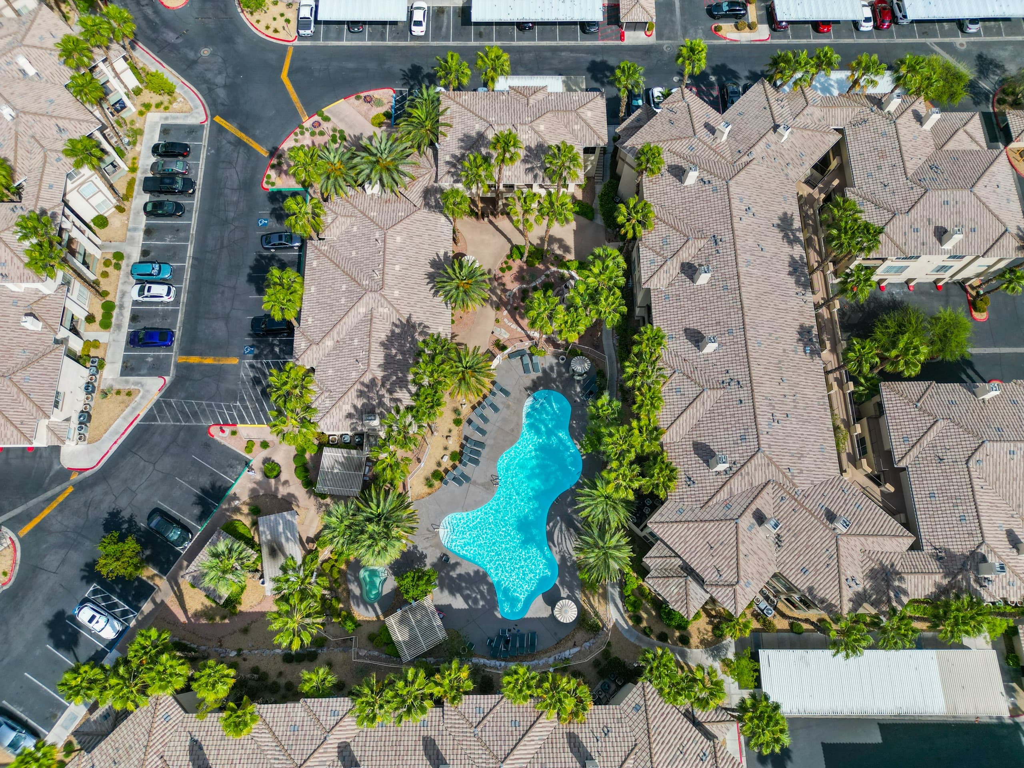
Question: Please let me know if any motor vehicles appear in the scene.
Yes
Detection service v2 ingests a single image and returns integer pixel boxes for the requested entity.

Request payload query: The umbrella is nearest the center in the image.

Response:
[571,355,591,374]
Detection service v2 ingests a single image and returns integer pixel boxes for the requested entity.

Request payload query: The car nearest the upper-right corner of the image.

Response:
[961,19,980,31]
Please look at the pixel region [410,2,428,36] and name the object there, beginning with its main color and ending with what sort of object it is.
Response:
white car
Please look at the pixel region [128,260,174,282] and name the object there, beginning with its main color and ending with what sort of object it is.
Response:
blue car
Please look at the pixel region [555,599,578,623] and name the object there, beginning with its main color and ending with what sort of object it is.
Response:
white umbrella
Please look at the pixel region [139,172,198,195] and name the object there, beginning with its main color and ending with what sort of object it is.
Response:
black truck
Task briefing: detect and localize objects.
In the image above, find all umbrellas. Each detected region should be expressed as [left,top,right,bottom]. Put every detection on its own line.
[462,254,479,270]
[571,355,591,374]
[555,599,578,623]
